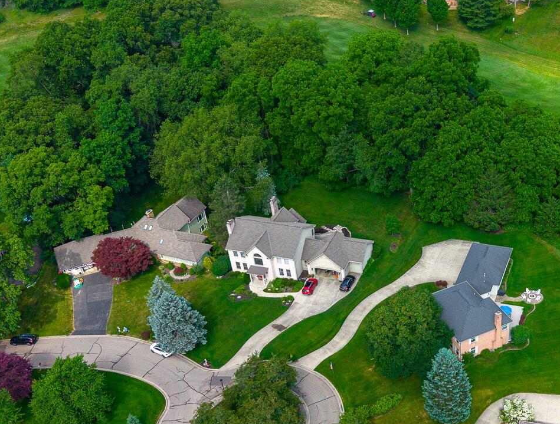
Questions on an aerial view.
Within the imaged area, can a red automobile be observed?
Yes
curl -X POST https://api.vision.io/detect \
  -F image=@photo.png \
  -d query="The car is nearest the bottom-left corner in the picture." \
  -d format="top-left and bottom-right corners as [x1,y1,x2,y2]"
[8,328,37,344]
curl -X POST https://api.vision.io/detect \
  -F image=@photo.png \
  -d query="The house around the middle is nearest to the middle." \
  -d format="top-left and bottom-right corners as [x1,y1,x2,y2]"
[225,196,373,287]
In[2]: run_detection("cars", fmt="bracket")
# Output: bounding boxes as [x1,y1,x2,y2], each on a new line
[300,275,319,294]
[8,328,37,344]
[147,341,173,357]
[336,273,357,292]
